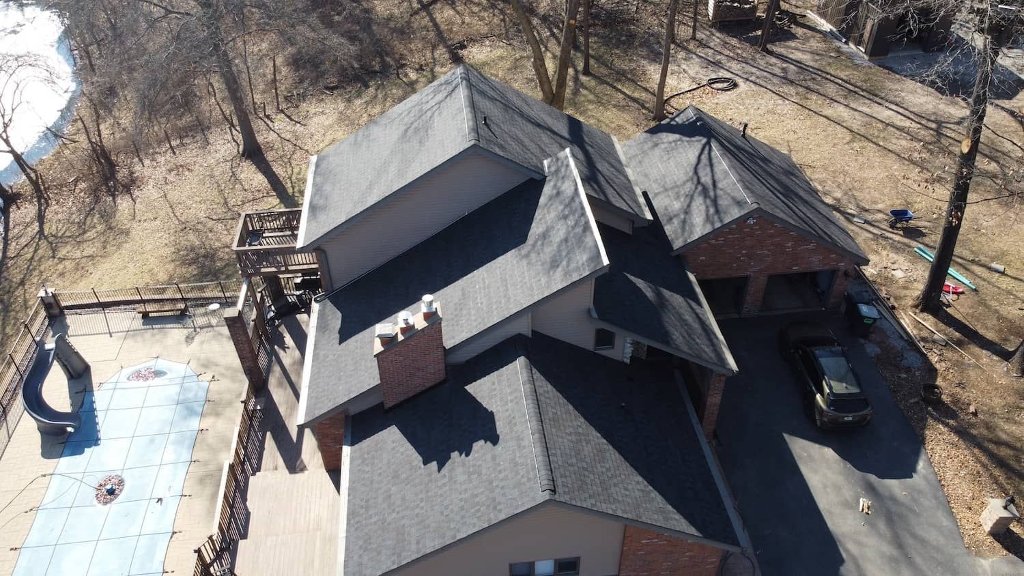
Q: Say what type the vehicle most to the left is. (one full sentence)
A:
The vehicle most to the left in the image is a car.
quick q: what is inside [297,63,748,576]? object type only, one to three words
house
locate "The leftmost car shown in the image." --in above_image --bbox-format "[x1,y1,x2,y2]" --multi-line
[779,330,875,428]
